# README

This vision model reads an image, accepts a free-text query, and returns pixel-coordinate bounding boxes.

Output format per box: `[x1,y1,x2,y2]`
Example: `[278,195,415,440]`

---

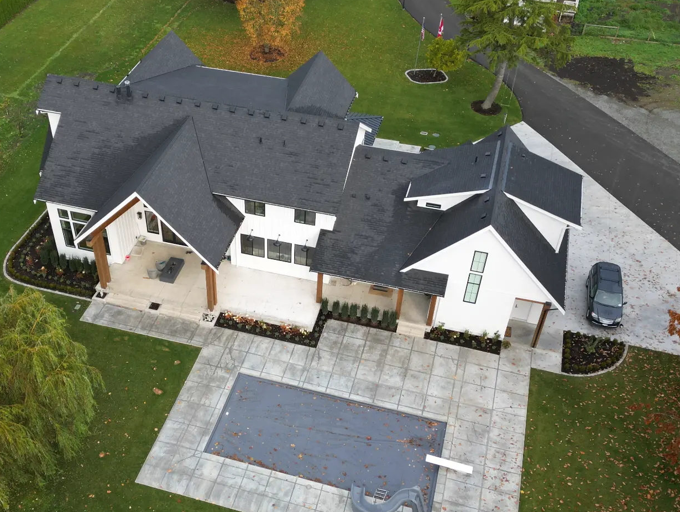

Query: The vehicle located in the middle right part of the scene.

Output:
[586,261,629,330]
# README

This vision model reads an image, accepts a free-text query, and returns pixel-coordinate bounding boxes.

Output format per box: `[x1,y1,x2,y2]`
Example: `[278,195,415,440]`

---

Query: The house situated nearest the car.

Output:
[30,31,585,346]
